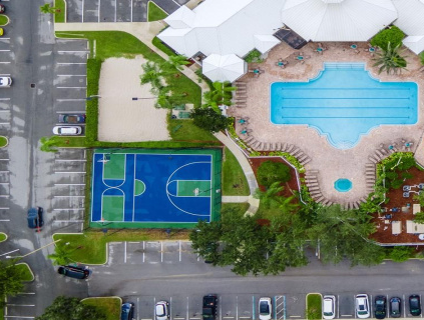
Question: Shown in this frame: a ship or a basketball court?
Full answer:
The image shows a basketball court.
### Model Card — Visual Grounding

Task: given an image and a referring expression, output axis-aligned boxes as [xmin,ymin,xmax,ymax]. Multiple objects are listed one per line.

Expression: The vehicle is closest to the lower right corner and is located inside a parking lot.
[407,294,421,316]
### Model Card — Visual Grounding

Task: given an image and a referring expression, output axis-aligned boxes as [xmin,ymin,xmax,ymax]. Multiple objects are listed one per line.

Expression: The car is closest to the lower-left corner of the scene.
[56,264,92,280]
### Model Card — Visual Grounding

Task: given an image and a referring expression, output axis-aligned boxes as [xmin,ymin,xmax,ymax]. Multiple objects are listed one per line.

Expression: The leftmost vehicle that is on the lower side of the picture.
[26,207,44,229]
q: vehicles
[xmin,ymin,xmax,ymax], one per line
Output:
[372,295,387,319]
[201,294,218,320]
[0,5,6,14]
[121,302,136,320]
[0,76,15,86]
[355,295,369,318]
[26,207,44,229]
[56,264,92,280]
[321,295,336,319]
[389,297,402,318]
[155,300,170,320]
[52,126,83,136]
[258,297,272,320]
[407,294,421,316]
[57,114,84,124]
